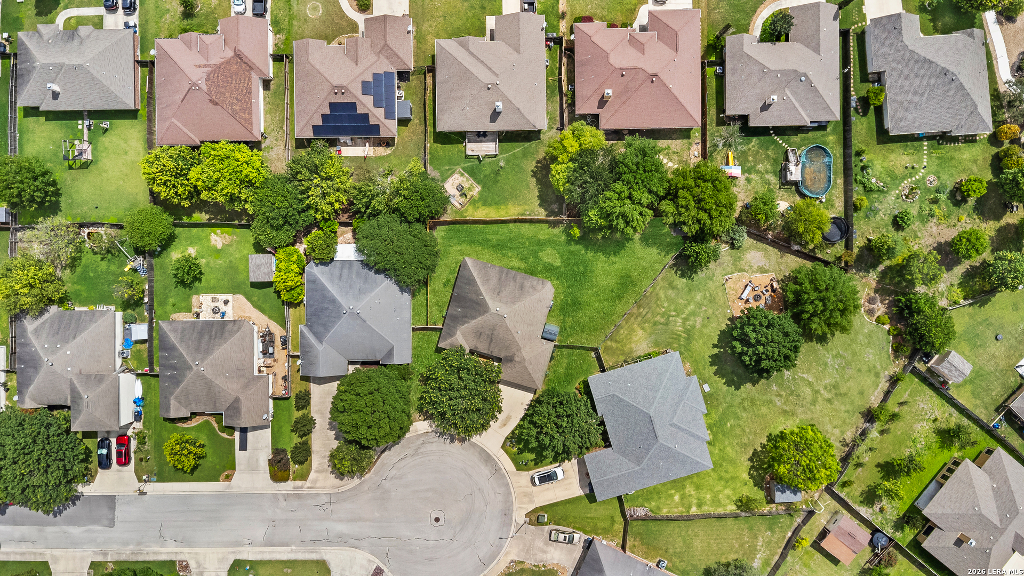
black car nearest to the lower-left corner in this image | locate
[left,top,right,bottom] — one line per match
[92,438,110,472]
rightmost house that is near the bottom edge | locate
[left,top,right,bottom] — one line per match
[914,446,1024,576]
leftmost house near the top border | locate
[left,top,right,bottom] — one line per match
[17,24,142,112]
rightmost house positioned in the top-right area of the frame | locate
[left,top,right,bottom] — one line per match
[863,13,993,137]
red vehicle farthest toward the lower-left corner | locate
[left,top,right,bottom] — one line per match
[111,436,129,468]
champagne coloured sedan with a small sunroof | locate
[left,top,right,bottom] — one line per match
[549,529,582,547]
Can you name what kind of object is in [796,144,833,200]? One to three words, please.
swimming pool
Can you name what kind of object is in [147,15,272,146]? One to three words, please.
house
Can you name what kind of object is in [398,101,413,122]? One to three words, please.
shed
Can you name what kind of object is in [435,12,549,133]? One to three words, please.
house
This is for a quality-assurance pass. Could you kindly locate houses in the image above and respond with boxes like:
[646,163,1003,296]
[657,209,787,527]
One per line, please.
[293,14,413,138]
[438,257,555,389]
[158,320,274,427]
[570,536,676,576]
[914,446,1024,576]
[147,15,272,146]
[584,351,713,502]
[863,13,993,137]
[1001,379,1024,431]
[295,260,412,376]
[571,9,701,130]
[723,1,840,127]
[9,306,133,431]
[17,24,142,112]
[435,12,549,133]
